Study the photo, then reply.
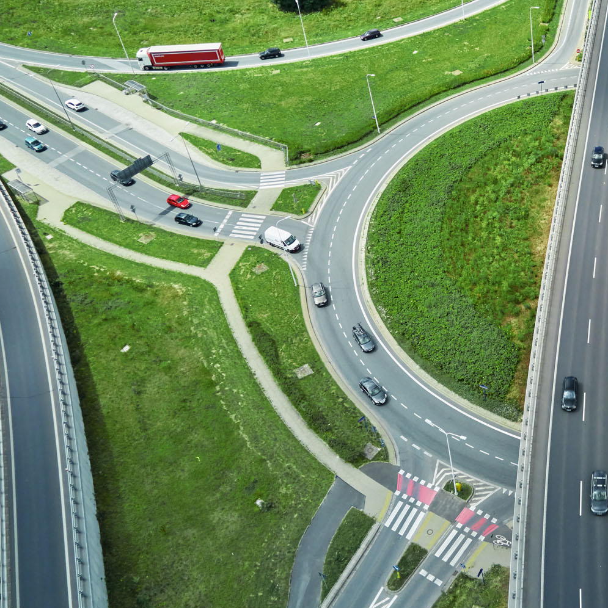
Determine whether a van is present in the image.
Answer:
Yes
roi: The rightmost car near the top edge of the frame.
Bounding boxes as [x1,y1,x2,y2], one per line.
[360,26,381,39]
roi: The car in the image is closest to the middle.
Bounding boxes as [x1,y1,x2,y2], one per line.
[310,279,327,306]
